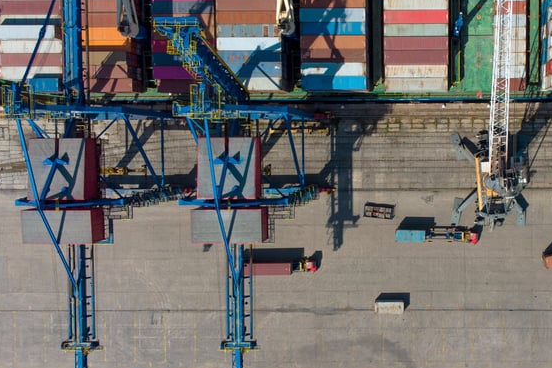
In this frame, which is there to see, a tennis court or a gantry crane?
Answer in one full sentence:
This aerial view contains a gantry crane.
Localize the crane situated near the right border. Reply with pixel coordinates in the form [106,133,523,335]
[450,0,532,226]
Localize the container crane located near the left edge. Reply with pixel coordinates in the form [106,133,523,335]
[2,0,197,368]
